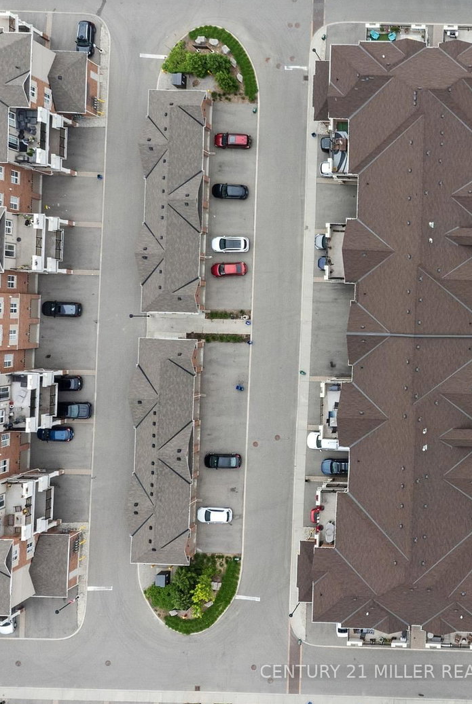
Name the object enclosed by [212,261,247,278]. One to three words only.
car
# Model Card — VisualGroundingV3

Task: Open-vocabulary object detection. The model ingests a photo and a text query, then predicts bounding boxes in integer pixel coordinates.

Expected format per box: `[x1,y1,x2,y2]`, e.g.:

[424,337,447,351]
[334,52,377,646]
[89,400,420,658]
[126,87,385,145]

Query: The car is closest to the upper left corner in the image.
[74,20,97,59]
